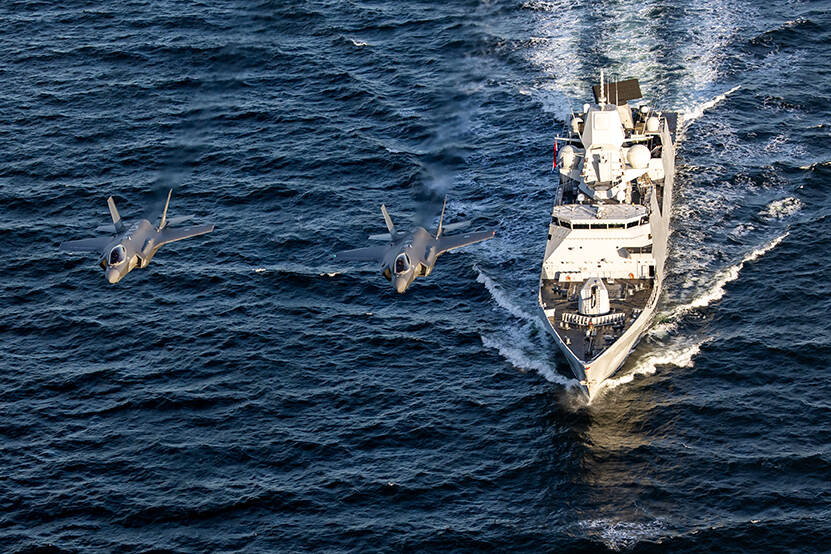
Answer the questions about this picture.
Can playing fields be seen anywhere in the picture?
No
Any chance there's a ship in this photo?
Yes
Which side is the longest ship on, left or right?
right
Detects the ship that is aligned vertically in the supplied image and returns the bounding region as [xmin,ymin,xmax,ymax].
[540,73,689,398]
